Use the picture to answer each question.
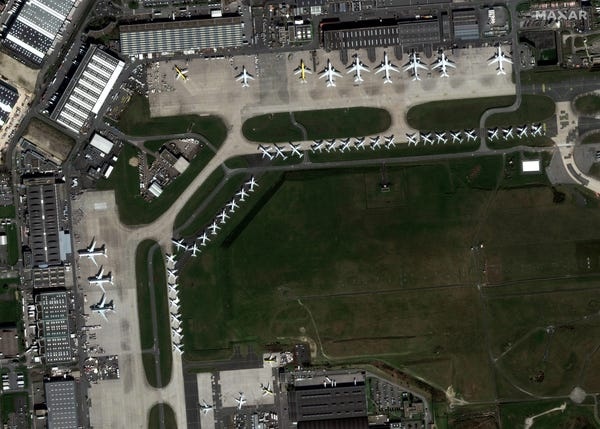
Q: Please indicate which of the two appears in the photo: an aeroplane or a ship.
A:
aeroplane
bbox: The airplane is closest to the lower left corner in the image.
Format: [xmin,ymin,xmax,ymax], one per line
[91,297,114,321]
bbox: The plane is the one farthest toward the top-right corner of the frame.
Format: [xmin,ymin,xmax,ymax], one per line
[489,47,513,74]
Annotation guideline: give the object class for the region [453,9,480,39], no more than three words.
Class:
hangar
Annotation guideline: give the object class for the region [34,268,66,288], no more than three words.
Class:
building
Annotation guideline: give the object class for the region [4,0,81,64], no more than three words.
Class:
hangar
